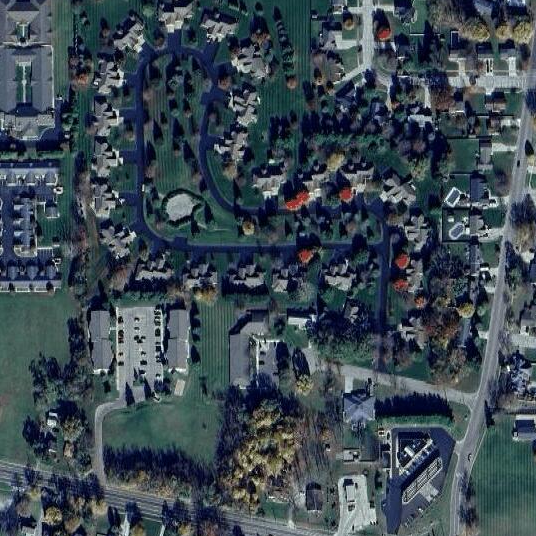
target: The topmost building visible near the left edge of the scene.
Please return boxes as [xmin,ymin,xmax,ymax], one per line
[0,0,53,43]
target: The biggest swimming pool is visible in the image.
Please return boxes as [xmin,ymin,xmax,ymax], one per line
[447,186,466,209]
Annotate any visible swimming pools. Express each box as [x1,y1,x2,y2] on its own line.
[449,224,464,238]
[447,186,466,209]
